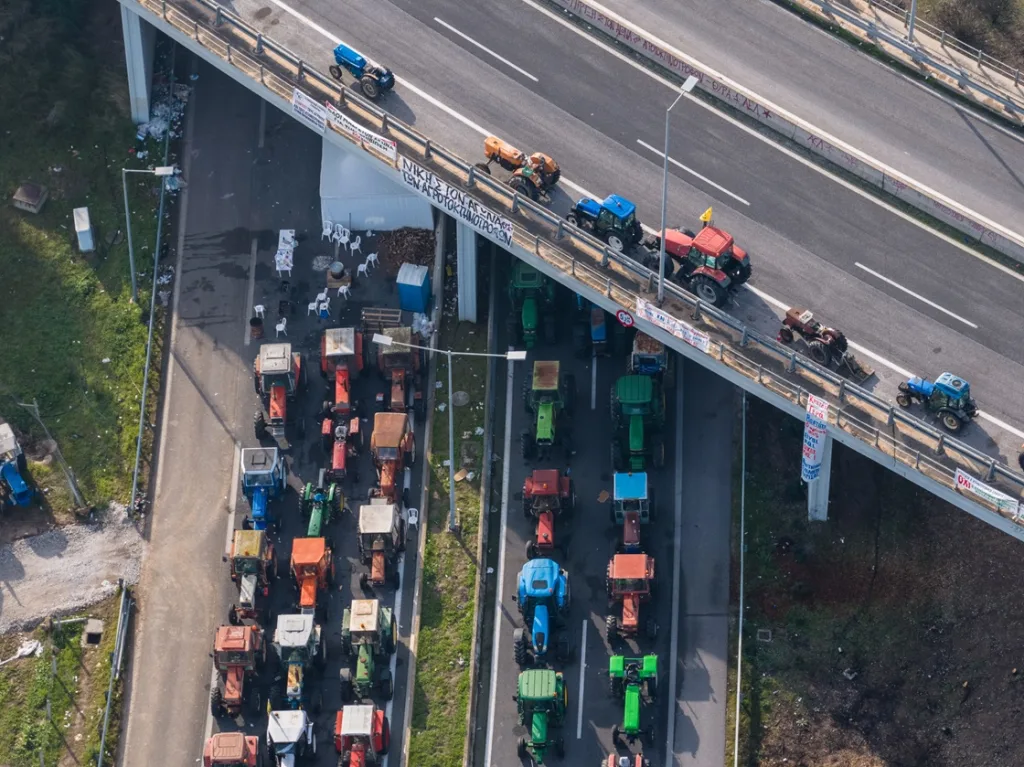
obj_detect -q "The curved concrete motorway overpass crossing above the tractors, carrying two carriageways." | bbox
[116,0,1024,544]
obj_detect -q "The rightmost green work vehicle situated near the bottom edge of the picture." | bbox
[610,656,657,747]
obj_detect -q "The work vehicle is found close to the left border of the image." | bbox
[0,422,39,513]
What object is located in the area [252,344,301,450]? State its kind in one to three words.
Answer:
work vehicle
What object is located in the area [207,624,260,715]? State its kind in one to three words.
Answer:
work vehicle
